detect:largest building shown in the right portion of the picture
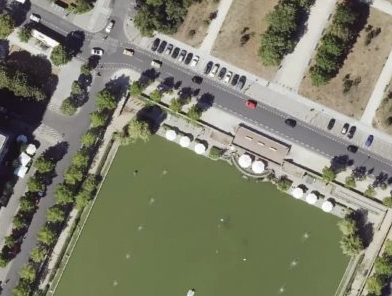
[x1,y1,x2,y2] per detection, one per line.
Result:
[232,126,289,167]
